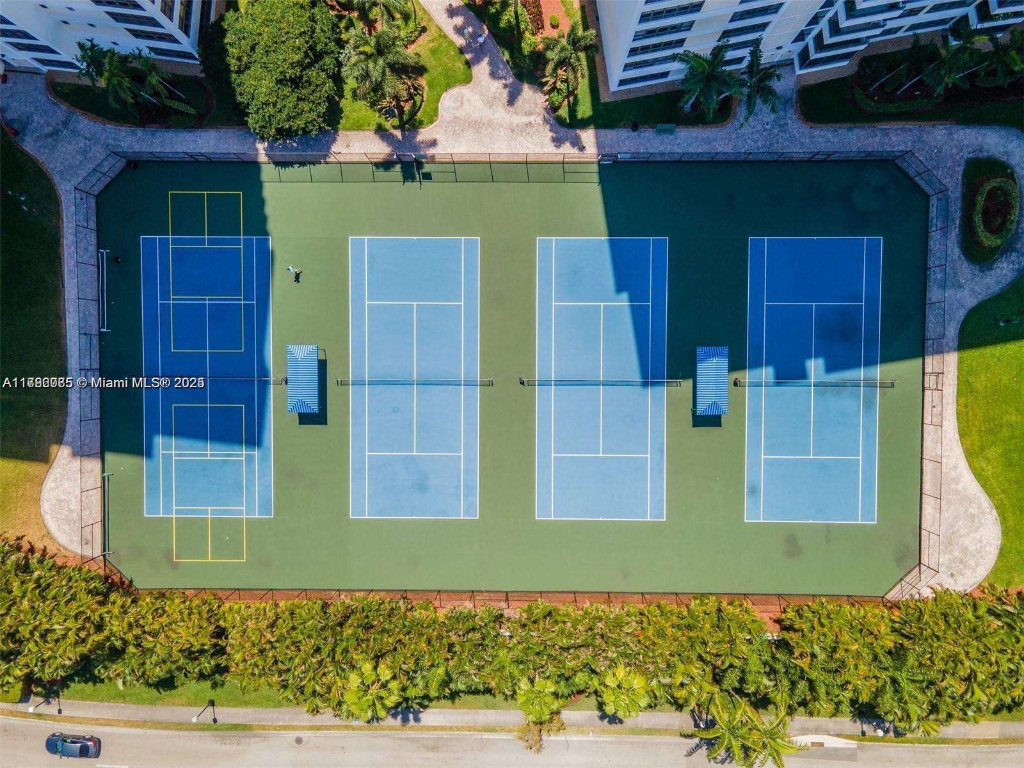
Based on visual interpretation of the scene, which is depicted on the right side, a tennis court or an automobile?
tennis court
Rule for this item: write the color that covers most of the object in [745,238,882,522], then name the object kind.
blue tennis court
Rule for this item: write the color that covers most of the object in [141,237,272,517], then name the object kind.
blue tennis court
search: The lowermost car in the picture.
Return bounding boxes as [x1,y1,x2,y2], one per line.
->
[47,730,99,758]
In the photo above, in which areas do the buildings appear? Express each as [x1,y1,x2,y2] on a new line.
[0,0,215,74]
[596,0,1024,91]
